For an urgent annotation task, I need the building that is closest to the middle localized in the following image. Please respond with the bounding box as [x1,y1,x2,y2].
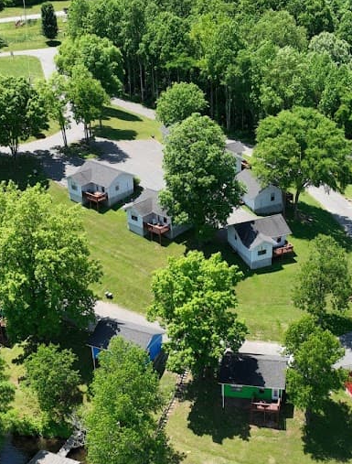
[118,188,194,244]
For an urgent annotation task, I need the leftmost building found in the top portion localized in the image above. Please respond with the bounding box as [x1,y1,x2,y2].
[63,160,136,208]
